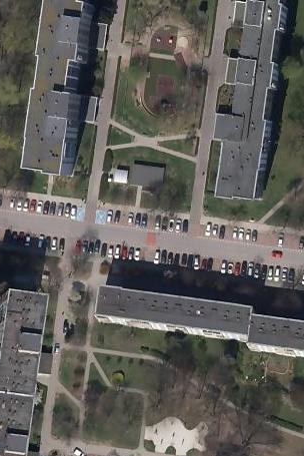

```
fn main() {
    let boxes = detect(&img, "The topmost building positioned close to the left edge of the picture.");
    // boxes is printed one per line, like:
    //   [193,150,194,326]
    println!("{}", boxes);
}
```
[14,0,96,180]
